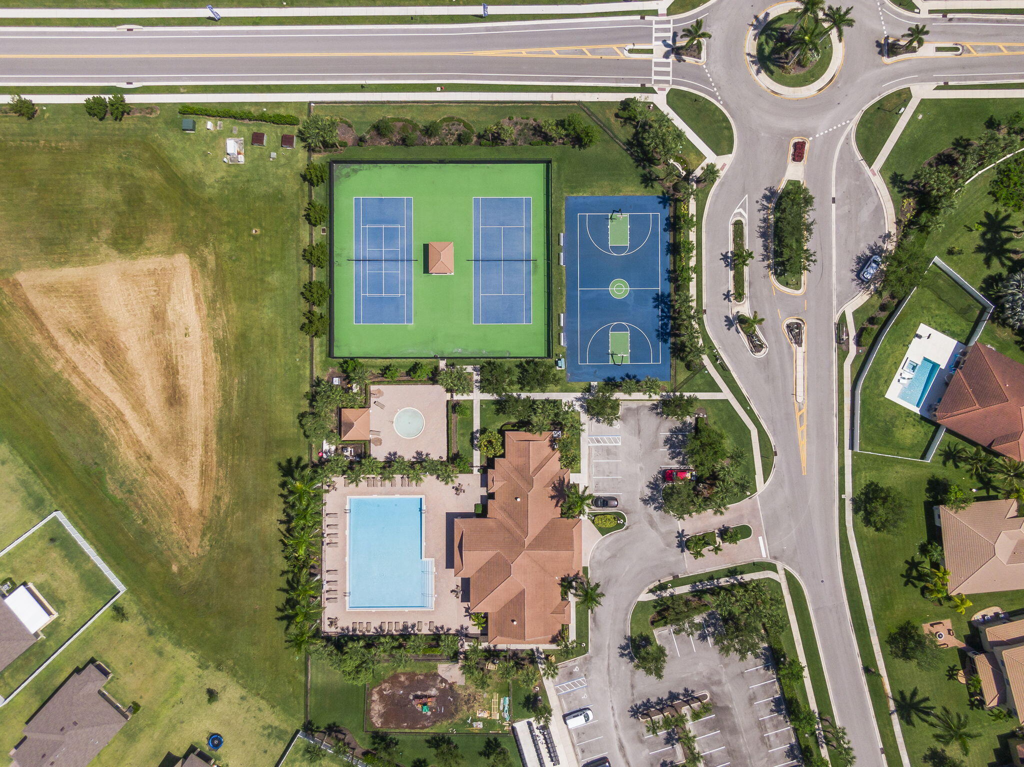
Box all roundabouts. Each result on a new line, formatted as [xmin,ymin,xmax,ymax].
[745,0,844,99]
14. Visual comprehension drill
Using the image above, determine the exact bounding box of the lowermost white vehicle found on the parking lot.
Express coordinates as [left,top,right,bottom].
[565,710,593,730]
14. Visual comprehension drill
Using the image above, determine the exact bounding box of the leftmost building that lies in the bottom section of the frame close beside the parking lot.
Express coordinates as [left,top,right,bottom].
[454,431,583,644]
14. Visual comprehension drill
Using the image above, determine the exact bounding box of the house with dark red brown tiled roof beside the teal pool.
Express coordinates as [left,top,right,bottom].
[935,341,1024,460]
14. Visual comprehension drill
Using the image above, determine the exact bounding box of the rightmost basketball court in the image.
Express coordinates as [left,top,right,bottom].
[566,195,670,382]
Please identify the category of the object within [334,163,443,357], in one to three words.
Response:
tennis court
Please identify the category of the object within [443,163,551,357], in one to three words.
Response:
tennis court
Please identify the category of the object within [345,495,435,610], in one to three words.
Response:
swimming pool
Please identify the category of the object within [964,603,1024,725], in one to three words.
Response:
house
